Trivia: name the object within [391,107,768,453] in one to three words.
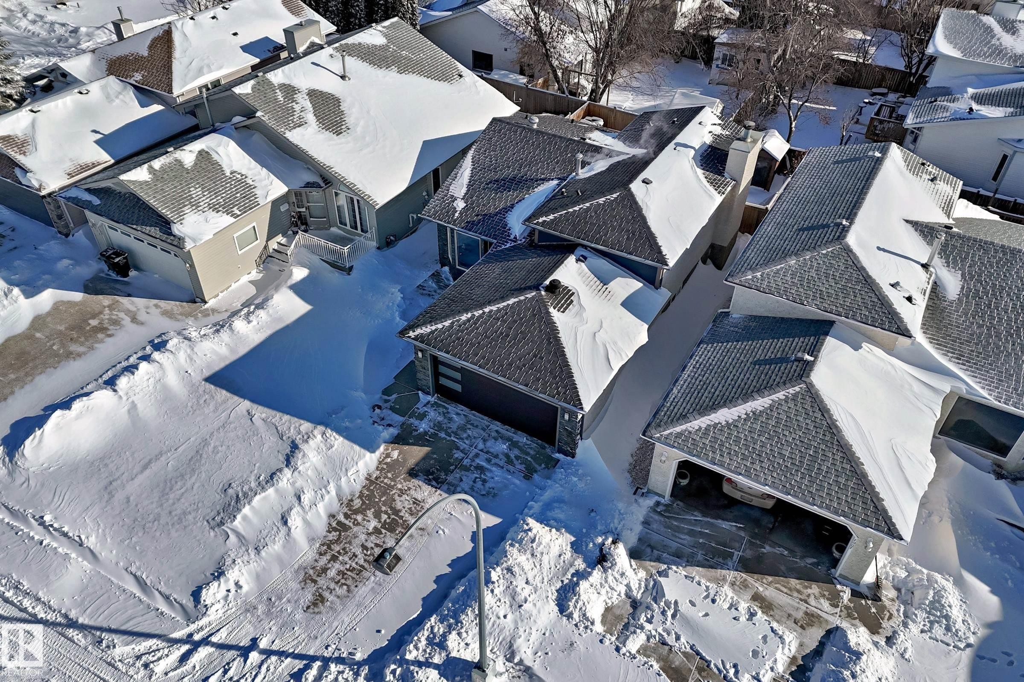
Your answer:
house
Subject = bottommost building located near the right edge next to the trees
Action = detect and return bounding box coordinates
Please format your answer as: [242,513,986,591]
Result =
[636,141,1024,578]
